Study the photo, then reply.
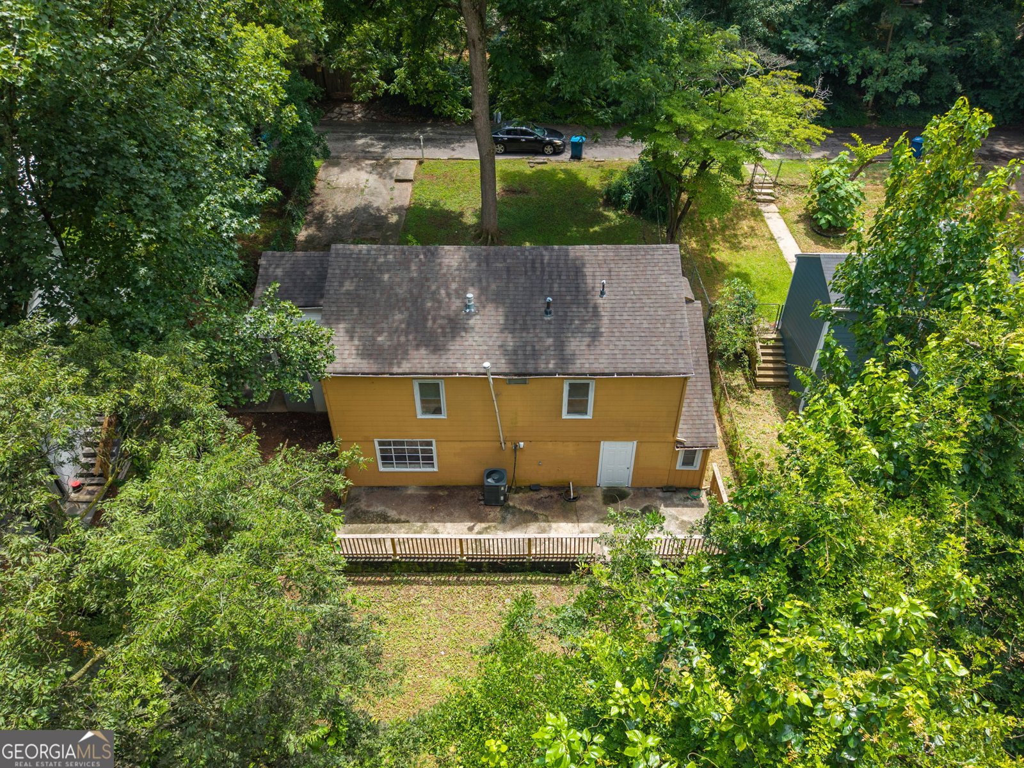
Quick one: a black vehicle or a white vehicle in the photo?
black vehicle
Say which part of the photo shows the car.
top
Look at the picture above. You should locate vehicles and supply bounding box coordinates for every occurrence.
[493,118,566,154]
